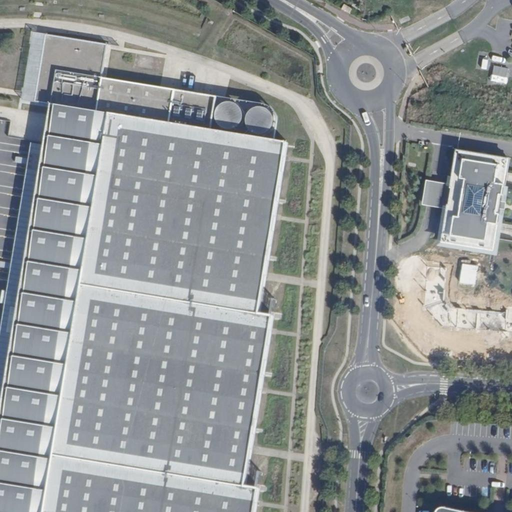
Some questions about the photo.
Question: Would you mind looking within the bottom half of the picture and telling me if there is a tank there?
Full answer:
No, I see no tank within the bottom half of the picture.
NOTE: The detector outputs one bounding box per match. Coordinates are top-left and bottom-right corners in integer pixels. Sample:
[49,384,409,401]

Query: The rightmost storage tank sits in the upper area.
[245,104,273,132]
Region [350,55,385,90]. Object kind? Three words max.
roundabout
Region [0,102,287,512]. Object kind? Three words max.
warehouse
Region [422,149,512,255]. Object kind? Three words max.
building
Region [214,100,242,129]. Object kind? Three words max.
storage tank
